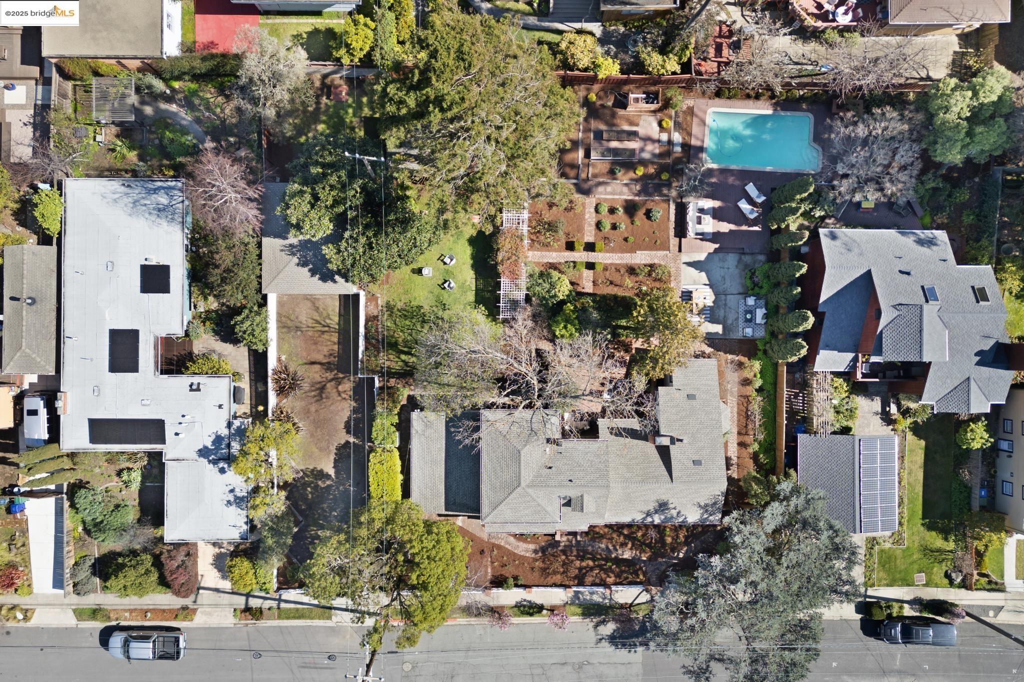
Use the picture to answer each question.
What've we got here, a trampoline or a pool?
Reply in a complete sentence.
This aerial view contains a pool.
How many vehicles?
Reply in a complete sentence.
The picture shows 3 vehicles.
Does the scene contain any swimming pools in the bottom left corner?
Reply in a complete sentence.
No, no swimming pool can be made out in the bottom left corner.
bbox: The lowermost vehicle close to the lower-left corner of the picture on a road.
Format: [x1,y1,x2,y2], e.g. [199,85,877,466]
[105,627,184,664]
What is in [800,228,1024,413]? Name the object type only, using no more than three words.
house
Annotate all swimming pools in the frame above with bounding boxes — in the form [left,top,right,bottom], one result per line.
[703,107,822,174]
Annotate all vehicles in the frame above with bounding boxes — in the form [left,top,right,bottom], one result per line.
[105,627,184,664]
[880,616,964,653]
[14,386,57,453]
